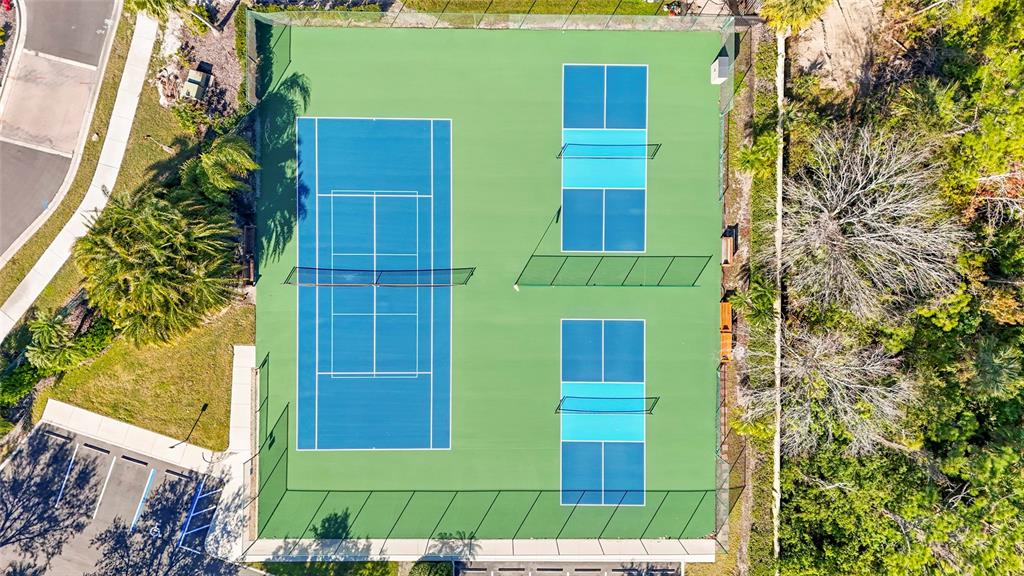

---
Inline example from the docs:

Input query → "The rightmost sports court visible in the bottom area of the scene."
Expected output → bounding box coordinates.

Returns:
[560,319,646,506]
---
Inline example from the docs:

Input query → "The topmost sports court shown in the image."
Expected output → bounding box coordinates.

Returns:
[561,64,648,252]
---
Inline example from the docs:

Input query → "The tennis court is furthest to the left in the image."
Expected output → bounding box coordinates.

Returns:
[297,118,452,450]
